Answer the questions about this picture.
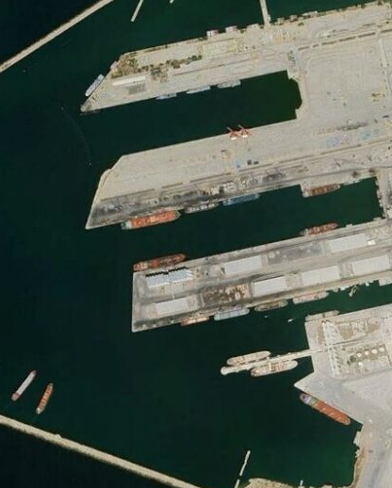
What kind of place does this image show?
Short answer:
port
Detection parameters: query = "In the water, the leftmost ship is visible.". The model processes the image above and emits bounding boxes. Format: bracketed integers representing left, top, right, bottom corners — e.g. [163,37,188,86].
[11,371,36,401]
